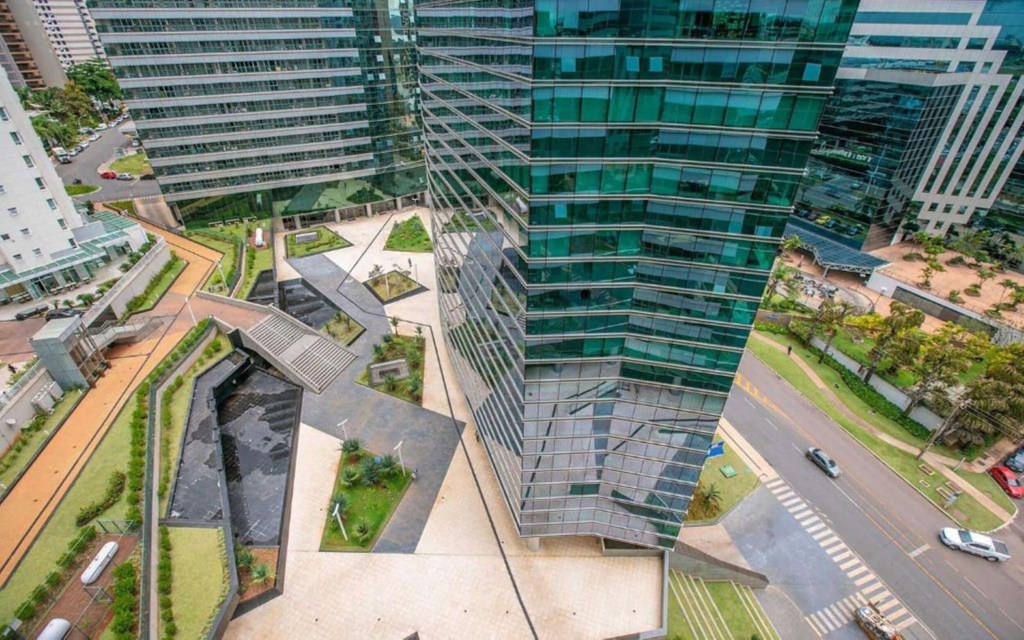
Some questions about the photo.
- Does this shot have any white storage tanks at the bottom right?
No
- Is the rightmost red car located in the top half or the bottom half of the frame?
bottom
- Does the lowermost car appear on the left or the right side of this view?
right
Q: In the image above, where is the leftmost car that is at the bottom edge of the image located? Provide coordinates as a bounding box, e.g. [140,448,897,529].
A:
[851,598,910,640]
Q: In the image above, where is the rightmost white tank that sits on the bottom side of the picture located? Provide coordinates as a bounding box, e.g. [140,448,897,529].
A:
[82,544,120,580]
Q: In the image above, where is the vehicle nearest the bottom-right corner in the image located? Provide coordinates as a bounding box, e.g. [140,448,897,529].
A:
[944,530,1015,564]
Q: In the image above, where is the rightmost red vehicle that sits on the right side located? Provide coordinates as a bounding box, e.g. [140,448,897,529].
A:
[986,466,1024,499]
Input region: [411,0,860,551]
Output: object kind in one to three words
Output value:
building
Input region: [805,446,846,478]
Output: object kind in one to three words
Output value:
car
